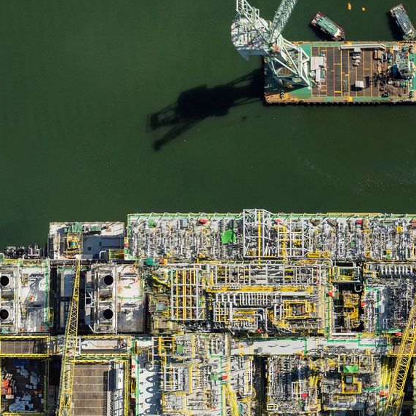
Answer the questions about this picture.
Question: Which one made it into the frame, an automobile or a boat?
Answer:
boat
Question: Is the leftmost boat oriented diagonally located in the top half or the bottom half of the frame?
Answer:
top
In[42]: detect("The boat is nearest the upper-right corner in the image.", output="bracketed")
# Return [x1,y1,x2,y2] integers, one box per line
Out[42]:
[386,2,414,40]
